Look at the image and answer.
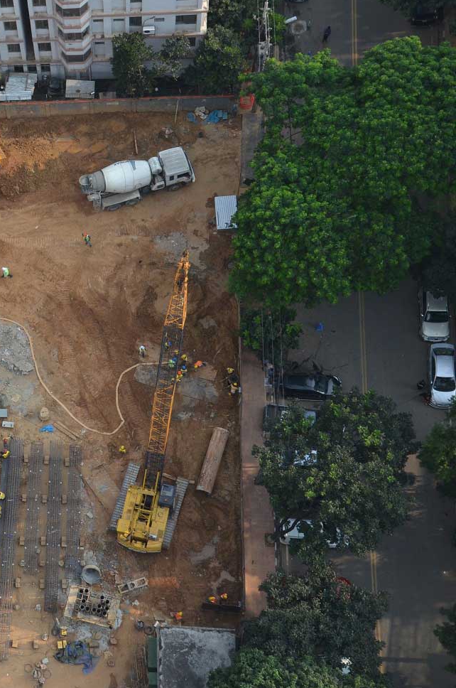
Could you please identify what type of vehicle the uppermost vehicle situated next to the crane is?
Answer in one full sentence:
I'd say the uppermost vehicle situated next to the crane is a truck.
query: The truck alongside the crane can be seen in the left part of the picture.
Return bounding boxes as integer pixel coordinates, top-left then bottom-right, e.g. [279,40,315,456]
[78,146,196,213]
